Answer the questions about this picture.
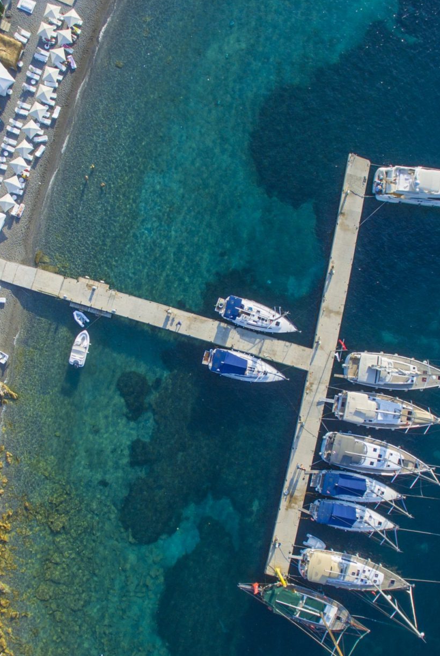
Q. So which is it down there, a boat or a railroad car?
boat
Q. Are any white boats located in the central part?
Yes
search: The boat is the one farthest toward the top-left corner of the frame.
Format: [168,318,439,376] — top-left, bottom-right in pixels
[73,310,90,327]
